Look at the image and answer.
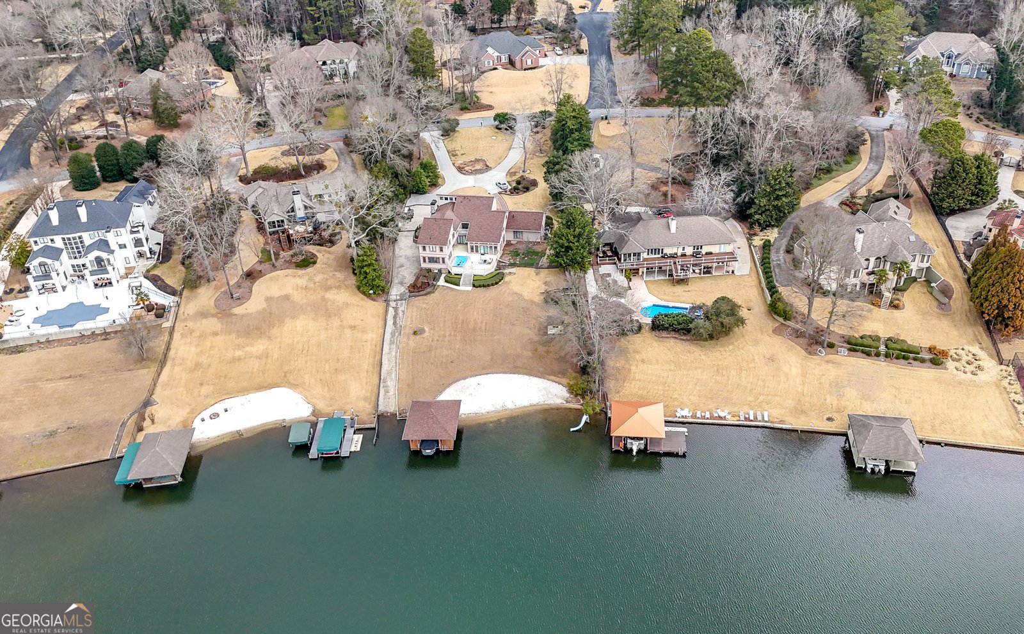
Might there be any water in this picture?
Yes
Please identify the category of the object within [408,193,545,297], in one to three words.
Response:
house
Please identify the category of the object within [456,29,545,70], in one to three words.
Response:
house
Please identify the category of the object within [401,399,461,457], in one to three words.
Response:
building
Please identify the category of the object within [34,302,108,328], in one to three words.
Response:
swimming pool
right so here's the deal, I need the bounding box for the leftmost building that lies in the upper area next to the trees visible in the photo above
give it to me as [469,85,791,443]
[19,176,167,295]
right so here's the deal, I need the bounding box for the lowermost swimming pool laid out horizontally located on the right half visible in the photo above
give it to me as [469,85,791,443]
[638,302,695,319]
